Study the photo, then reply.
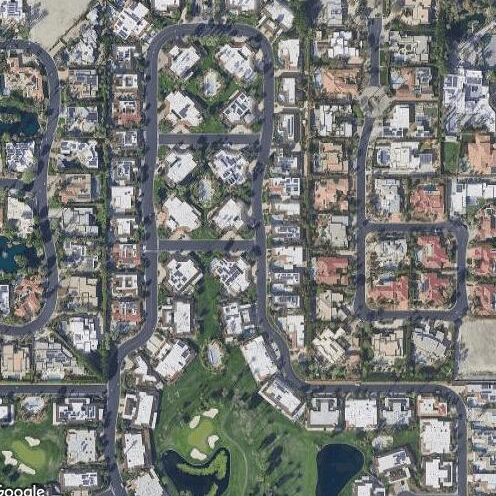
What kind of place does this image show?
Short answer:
residential area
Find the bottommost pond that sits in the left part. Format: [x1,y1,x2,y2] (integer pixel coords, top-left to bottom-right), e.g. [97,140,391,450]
[160,447,230,496]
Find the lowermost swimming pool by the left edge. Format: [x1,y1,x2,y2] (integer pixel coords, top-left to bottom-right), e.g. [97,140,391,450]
[21,393,47,416]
